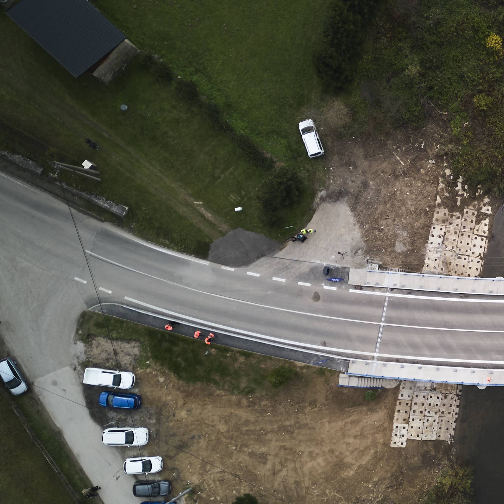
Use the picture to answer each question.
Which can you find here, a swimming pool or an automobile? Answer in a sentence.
Visible in the photo is an automobile.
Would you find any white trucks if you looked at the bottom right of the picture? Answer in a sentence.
No, the scene shows no white truck at the bottom right of the picture.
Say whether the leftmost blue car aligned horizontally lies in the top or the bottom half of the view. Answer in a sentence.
It is in the bottom half that the leftmost blue car aligned horizontally appears.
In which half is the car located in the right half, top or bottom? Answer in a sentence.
The top half of the photo is where the car located in the right half is.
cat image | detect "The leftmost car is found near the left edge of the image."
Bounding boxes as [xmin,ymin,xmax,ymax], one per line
[0,356,28,397]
